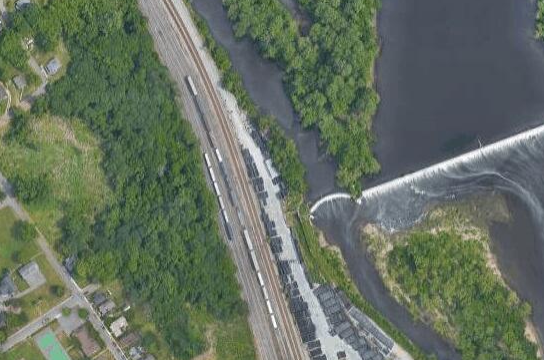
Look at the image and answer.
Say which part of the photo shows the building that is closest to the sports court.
bottom left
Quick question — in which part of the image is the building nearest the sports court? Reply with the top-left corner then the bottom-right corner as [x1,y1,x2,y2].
[76,330,101,358]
